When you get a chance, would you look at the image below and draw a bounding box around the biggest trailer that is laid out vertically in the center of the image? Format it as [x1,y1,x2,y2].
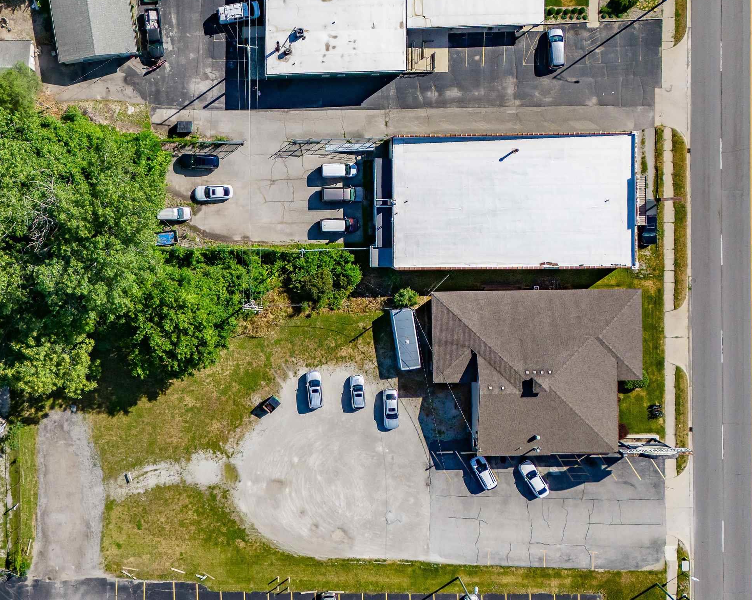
[387,308,421,373]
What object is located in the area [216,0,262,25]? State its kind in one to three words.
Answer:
vehicle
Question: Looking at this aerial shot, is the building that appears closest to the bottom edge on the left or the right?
right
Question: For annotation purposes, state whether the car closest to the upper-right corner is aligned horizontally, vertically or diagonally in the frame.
vertically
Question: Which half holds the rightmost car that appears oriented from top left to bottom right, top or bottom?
bottom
